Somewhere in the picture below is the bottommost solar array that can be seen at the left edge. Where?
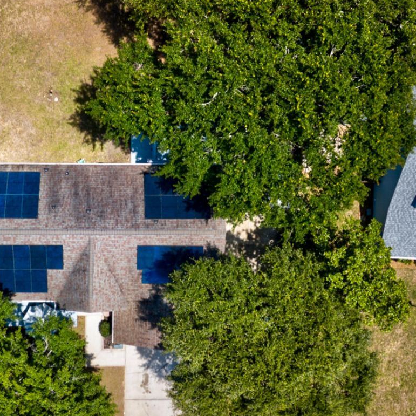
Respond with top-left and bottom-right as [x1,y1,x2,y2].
[0,245,64,290]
